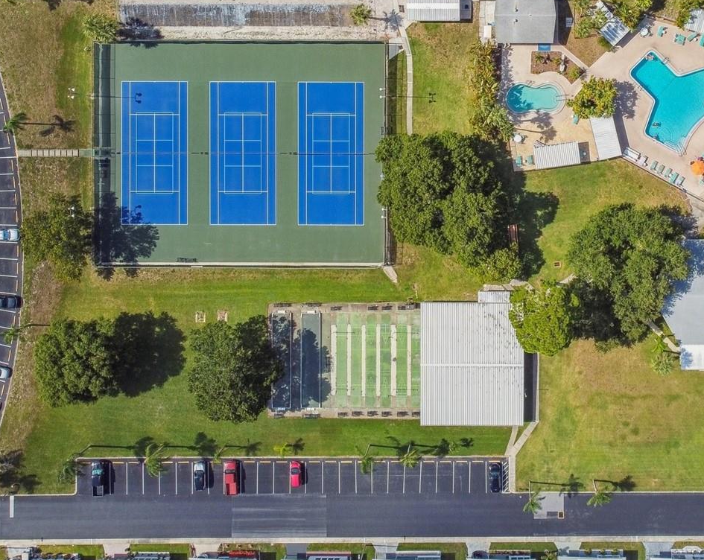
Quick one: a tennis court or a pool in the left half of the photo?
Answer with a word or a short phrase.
tennis court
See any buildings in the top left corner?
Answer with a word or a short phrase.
No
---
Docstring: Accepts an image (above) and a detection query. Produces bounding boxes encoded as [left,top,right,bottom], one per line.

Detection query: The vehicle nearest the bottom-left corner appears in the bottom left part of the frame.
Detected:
[90,460,107,497]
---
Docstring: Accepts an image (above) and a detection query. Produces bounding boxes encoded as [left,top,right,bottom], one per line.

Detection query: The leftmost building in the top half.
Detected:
[407,0,460,21]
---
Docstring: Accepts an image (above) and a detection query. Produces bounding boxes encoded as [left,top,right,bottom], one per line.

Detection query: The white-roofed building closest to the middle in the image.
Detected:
[420,290,524,425]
